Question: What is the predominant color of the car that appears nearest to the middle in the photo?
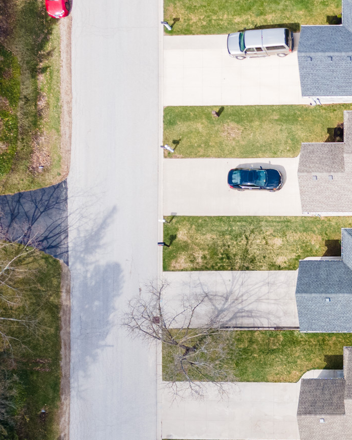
blue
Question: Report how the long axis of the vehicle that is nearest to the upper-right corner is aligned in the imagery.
from side to side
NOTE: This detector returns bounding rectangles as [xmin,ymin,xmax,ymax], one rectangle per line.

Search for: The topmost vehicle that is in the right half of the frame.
[231,30,295,61]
